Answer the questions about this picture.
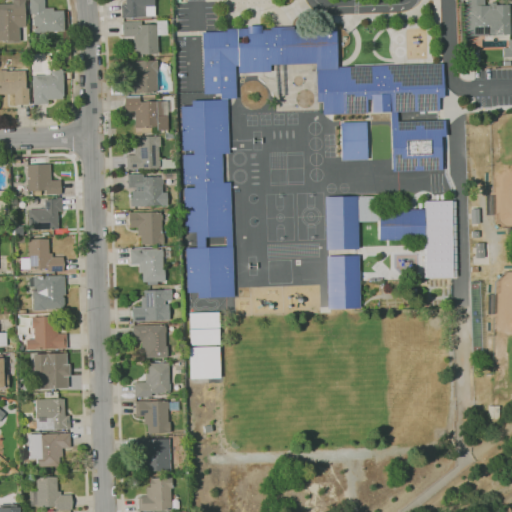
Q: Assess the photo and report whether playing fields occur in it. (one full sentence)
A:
Yes, a playing field is visible in the scene.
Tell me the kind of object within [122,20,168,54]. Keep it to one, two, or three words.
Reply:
house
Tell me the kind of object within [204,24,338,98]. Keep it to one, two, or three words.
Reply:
building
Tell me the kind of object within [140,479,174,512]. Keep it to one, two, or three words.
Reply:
house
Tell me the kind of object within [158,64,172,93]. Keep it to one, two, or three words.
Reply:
swimming pool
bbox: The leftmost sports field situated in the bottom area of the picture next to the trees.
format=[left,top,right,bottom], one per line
[223,310,448,451]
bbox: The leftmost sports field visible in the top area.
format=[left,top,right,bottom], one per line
[372,126,391,161]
